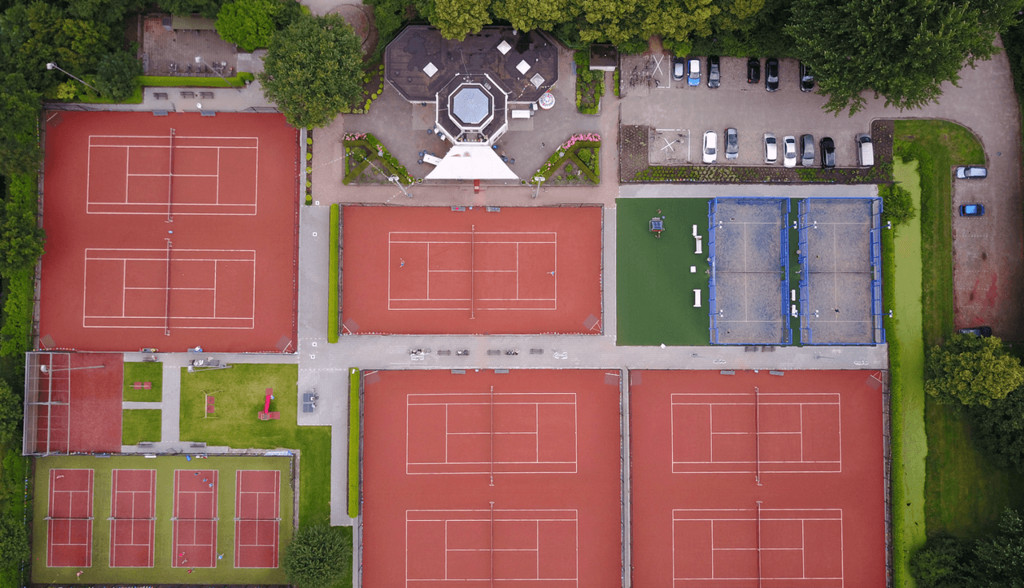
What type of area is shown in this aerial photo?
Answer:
sports ground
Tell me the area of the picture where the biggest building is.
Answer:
top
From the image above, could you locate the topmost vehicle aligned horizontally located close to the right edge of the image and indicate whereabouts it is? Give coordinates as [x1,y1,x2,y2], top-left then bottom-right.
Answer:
[956,164,990,179]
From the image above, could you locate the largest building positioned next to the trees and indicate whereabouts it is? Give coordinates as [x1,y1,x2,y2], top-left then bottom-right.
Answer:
[386,25,558,183]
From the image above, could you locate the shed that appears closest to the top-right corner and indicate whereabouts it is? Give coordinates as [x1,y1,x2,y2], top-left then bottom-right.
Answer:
[589,43,617,72]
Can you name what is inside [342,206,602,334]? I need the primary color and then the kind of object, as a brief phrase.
red tennis court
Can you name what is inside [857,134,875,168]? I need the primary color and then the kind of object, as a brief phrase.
white vehicle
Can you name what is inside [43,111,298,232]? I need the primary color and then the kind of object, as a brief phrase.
red tennis court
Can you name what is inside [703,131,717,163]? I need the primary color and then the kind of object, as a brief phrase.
white car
